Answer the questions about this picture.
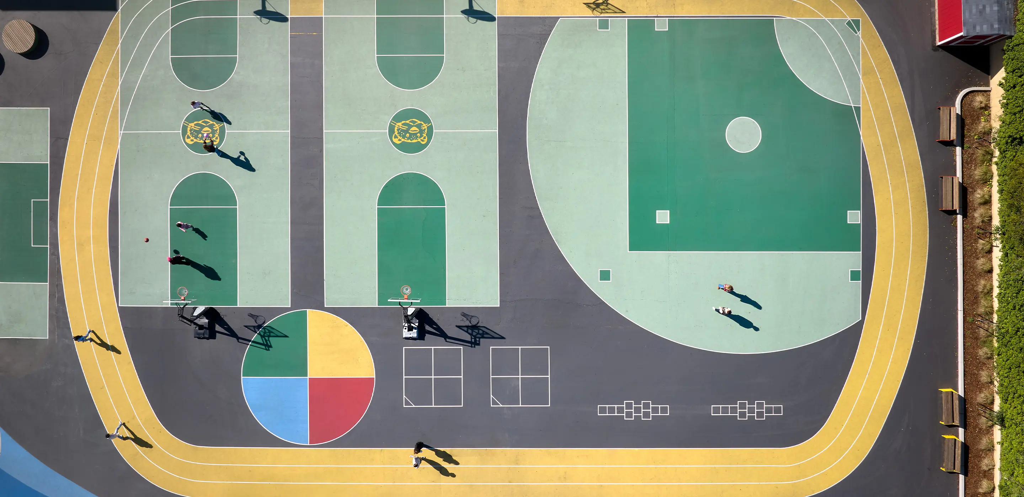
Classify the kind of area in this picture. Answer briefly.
sports ground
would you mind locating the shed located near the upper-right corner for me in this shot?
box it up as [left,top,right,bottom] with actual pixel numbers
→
[936,0,1017,45]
